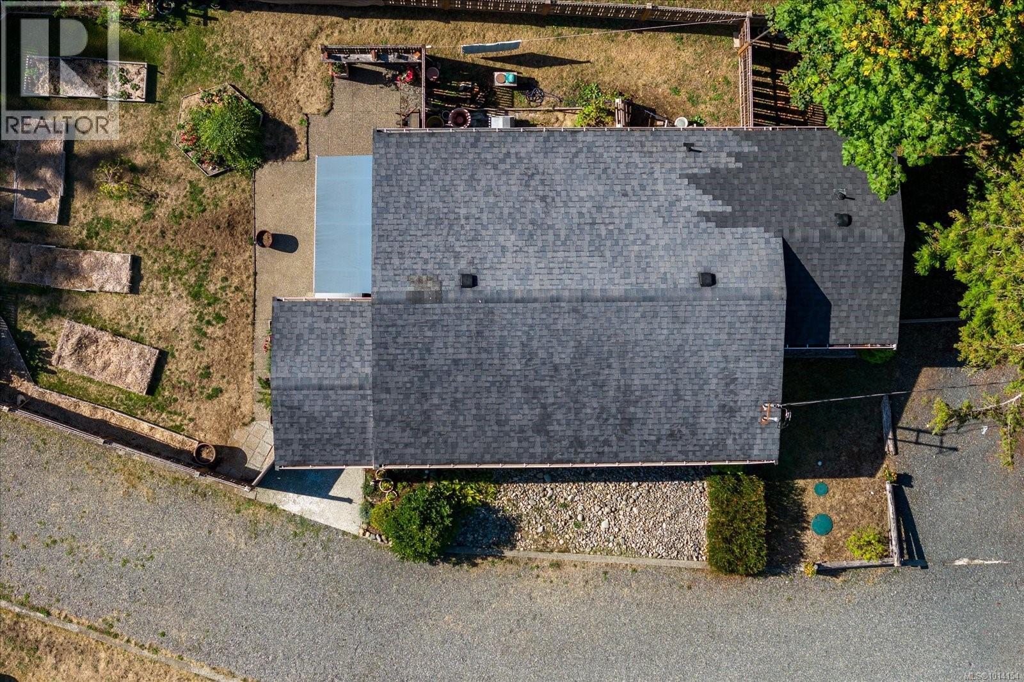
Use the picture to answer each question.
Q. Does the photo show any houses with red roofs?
No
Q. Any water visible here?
No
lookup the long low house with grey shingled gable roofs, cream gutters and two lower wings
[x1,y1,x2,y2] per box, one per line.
[266,129,902,468]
